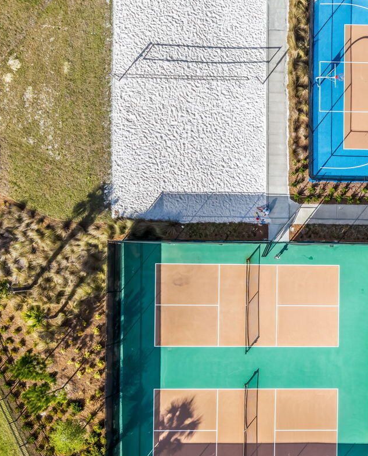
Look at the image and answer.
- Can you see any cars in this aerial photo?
No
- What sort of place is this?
sports ground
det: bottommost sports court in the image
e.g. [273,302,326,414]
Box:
[152,389,339,456]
